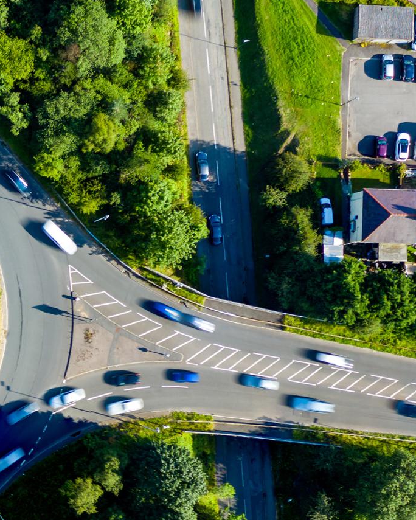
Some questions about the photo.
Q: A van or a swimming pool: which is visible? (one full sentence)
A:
Visible in the photo is a van.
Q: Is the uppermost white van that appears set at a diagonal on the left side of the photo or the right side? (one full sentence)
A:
You can find the uppermost white van that appears set at a diagonal on the left side of the picture.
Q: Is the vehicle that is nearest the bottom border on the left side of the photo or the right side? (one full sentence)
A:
The vehicle that is nearest the bottom border is on the left side of the image.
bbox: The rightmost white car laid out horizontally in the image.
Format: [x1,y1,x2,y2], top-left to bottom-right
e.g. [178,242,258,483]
[315,351,350,369]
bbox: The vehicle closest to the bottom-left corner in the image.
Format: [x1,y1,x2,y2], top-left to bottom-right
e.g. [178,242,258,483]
[0,446,25,473]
